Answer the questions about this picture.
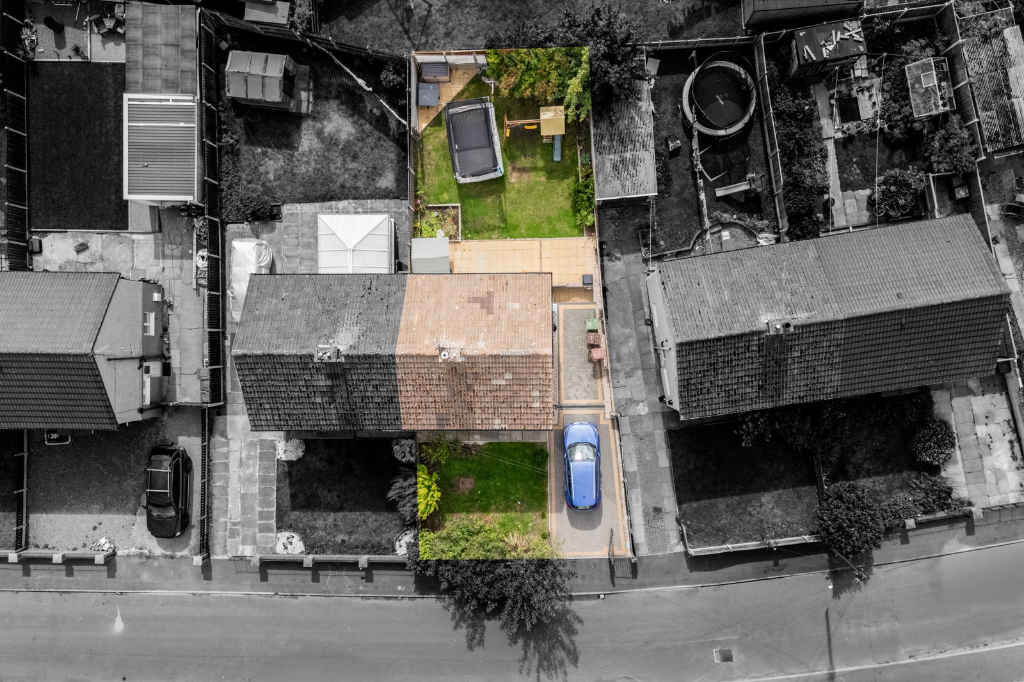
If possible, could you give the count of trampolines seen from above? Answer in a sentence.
In total, there are 2 trampolines in the scene.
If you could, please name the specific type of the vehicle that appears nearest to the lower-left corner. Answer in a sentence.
Specifically, the vehicle that appears nearest to the lower-left corner is an automobile.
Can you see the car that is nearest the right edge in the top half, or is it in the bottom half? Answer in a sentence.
Seen from above, the car that is nearest the right edge lies in the bottom half of the view.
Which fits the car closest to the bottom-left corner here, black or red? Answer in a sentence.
The color of the car closest to the bottom-left corner is black.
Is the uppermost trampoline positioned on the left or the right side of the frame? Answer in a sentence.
You can find the uppermost trampoline on the right side of the picture.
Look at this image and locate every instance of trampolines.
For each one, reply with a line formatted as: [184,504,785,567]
[442,96,504,184]
[681,53,756,132]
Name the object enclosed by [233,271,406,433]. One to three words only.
house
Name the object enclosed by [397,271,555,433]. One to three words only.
house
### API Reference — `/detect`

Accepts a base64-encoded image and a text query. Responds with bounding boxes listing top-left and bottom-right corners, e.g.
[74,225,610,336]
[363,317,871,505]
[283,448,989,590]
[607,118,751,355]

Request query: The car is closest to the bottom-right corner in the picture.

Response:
[561,422,603,513]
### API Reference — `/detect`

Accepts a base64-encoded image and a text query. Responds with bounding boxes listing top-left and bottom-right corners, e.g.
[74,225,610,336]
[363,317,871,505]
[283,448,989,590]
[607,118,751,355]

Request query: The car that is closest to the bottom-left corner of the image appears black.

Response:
[144,449,192,538]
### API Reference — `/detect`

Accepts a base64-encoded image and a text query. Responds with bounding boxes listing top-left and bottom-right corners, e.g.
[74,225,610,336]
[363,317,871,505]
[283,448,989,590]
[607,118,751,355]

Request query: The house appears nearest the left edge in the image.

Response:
[0,271,163,432]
